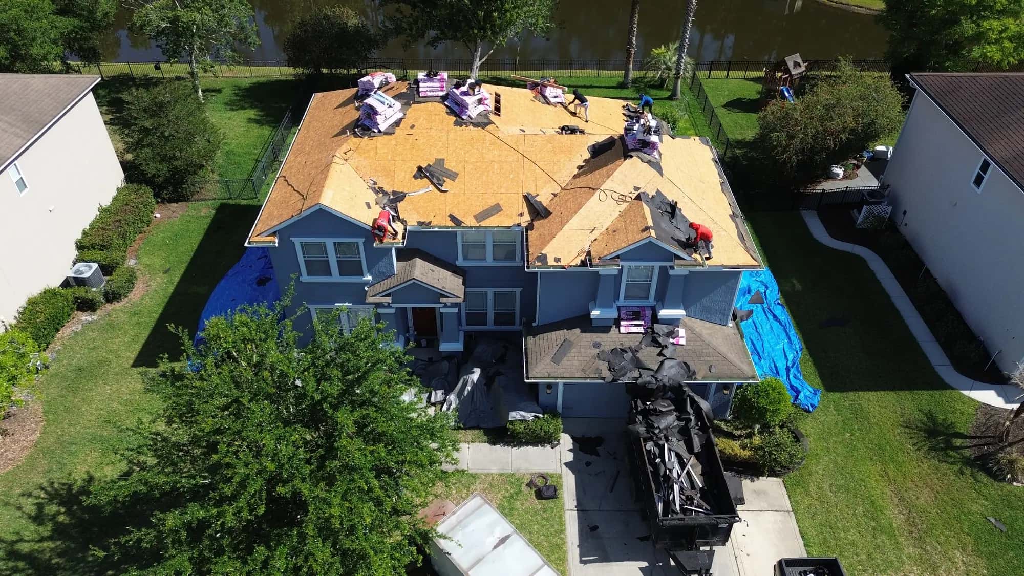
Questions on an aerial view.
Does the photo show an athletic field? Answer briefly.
No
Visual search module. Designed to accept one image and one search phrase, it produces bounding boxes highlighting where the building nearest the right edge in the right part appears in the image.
[876,77,1024,386]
